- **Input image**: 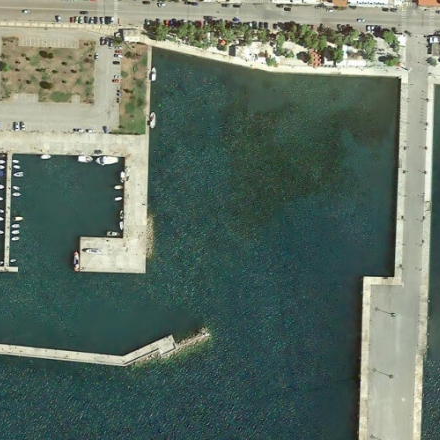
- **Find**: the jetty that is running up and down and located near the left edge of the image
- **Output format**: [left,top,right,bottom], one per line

[0,154,18,272]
